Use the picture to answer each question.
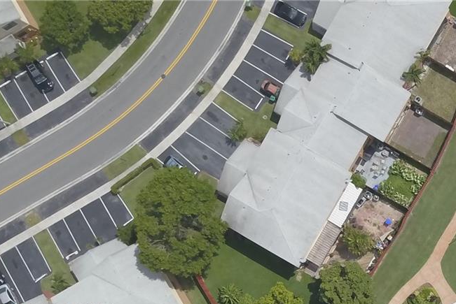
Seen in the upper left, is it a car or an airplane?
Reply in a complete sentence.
There is a car in the upper left.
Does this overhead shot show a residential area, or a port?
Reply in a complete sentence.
This looks like a residential area.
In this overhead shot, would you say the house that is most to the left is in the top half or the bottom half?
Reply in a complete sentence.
The top half of the photo is where the house that is most to the left is.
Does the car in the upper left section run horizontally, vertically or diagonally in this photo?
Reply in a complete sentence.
The car in the upper left section has been laid out diagonally relative to the frame.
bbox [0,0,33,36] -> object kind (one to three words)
house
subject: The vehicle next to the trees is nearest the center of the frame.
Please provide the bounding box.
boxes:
[163,152,195,177]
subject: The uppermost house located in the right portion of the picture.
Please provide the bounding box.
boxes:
[313,0,456,85]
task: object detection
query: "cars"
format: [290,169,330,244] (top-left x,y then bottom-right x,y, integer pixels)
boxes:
[24,60,55,94]
[163,152,195,177]
[257,79,280,100]
[270,0,306,26]
[0,280,20,304]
